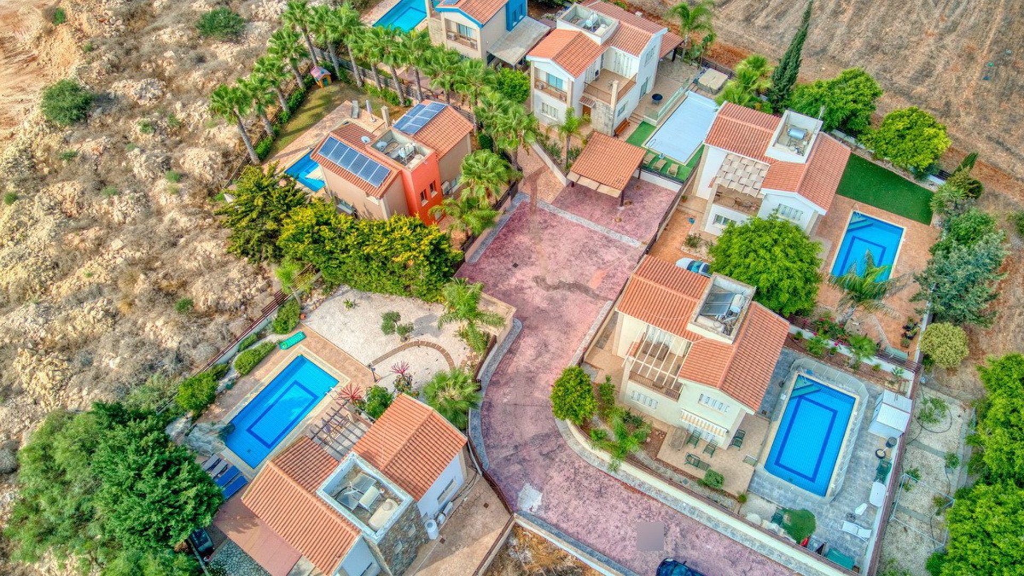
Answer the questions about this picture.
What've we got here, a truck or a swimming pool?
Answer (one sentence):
Visible in the photo is a swimming pool.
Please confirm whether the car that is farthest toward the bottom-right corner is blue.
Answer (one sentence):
Yes, the car that is farthest toward the bottom-right corner is blue.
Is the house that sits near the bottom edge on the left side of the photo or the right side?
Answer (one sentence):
The house that sits near the bottom edge is on the left side of the image.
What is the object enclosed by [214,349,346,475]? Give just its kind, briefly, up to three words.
swimming pool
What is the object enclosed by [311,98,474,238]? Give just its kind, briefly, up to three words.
house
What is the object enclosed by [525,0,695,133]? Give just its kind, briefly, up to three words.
house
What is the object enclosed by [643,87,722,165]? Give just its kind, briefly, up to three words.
swimming pool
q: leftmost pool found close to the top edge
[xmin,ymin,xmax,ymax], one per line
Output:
[369,0,444,44]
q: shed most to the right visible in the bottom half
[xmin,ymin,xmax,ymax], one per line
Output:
[868,393,913,439]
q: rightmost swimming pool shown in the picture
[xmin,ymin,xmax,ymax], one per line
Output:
[828,209,907,284]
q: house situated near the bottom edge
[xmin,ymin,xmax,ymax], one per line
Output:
[240,393,468,576]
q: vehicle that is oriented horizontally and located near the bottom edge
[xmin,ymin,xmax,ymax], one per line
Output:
[650,553,706,576]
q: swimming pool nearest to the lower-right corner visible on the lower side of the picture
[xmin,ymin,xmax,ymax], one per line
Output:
[759,370,861,502]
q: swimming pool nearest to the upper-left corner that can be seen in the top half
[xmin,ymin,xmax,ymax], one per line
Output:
[281,138,331,199]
